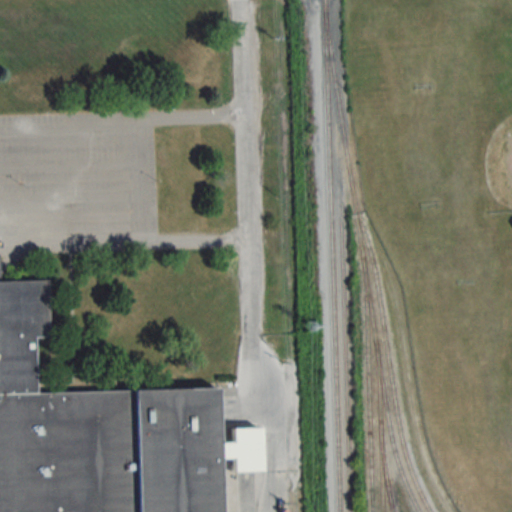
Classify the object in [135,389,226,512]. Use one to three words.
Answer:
building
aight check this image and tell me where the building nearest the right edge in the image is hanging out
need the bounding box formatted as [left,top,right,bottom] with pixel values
[225,427,266,473]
